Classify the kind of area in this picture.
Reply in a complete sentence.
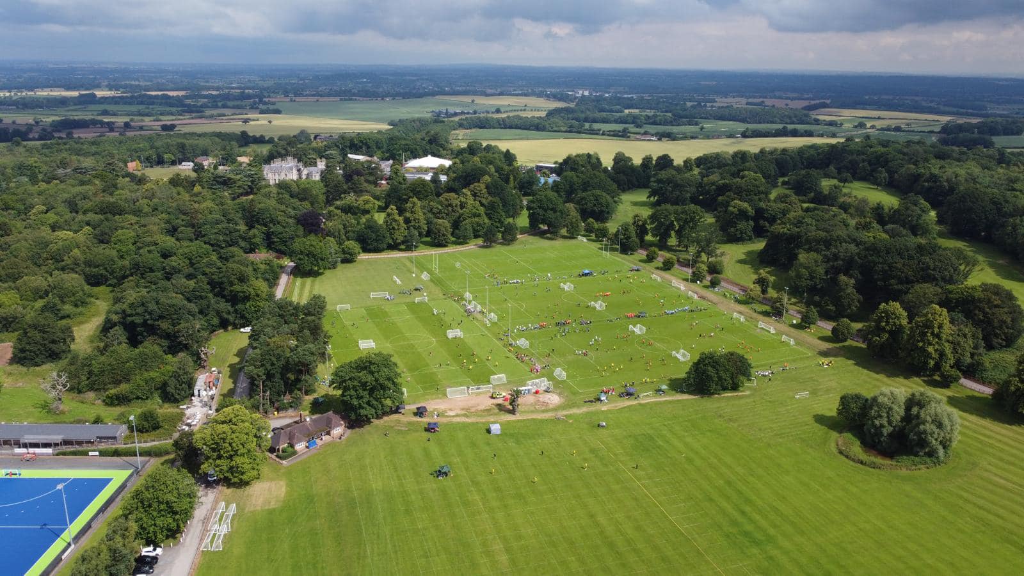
The area seen from above is a sports ground.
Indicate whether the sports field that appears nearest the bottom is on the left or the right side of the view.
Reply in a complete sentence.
It is on the left.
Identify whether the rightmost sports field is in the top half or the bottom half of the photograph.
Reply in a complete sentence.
It is in the bottom half that the rightmost sports field appears.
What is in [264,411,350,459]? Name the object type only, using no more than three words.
building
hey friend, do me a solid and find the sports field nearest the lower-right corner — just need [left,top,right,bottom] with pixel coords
[197,232,1024,576]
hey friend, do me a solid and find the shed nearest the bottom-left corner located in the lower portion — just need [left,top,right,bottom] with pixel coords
[0,420,134,451]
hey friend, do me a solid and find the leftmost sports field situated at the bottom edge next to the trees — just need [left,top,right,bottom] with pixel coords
[0,479,113,576]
